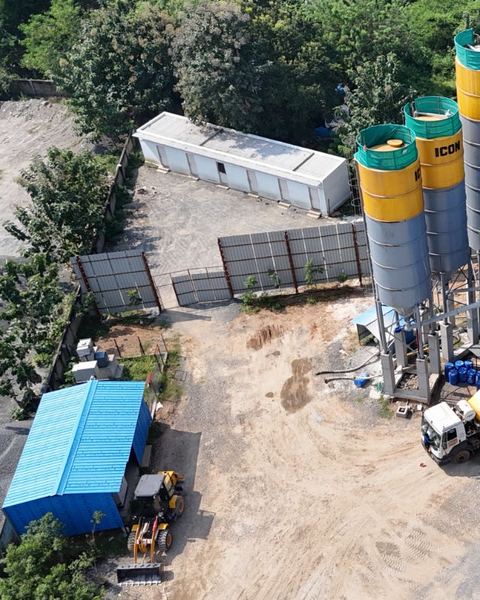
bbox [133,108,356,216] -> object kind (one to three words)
building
